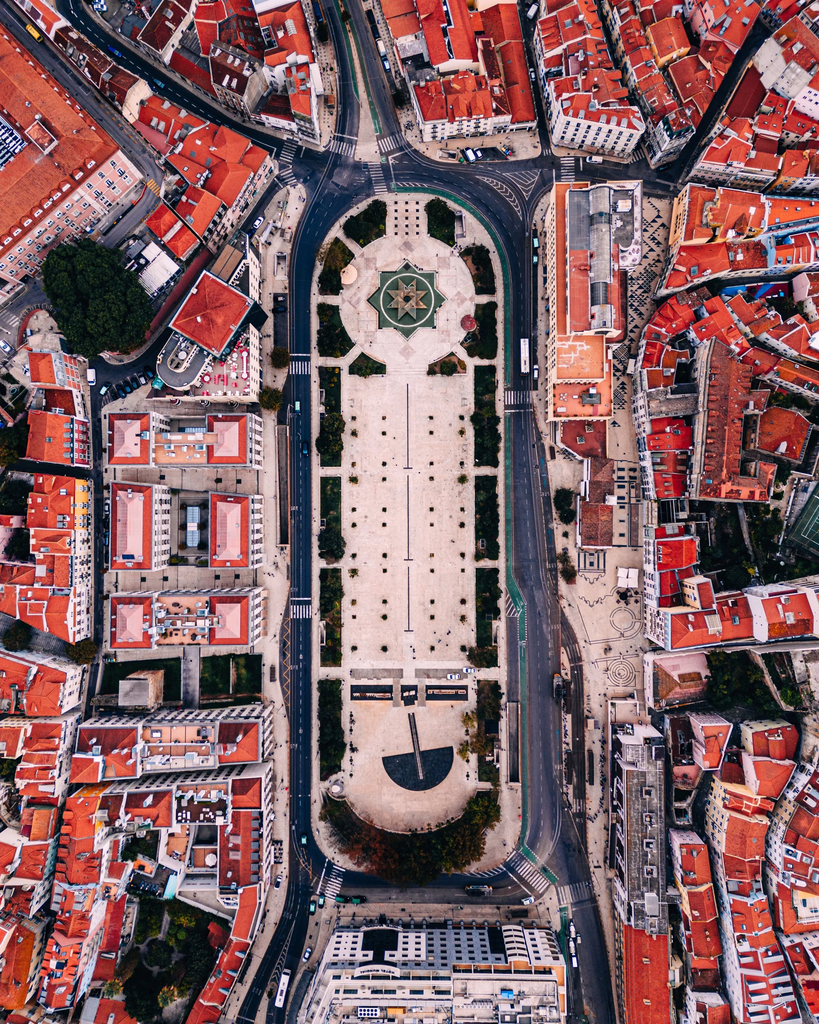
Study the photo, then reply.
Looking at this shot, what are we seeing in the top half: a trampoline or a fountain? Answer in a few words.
fountain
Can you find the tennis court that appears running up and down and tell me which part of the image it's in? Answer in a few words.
right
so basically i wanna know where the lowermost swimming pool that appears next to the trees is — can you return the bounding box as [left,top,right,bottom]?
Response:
[163,874,177,898]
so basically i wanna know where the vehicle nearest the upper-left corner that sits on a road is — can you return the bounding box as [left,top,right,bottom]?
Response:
[23,20,42,42]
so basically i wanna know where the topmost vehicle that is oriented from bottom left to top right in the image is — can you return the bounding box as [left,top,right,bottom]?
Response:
[527,2,540,18]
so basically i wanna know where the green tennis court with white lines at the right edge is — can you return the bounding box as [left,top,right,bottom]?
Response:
[789,481,819,553]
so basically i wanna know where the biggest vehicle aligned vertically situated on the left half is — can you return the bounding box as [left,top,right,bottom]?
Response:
[274,969,289,1012]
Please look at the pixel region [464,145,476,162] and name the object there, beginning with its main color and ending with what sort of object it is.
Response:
white vehicle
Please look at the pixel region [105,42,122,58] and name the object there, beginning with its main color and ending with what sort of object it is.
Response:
blue vehicle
